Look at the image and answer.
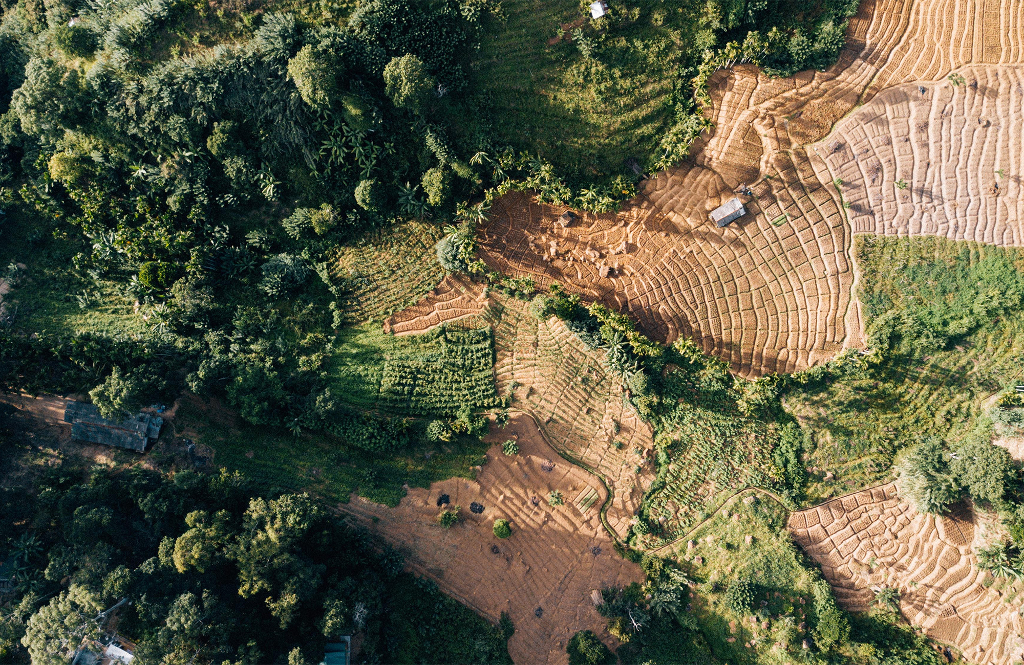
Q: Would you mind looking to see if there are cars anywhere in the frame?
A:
No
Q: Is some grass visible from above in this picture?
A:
Yes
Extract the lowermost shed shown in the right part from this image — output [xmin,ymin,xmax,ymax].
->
[707,197,747,230]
